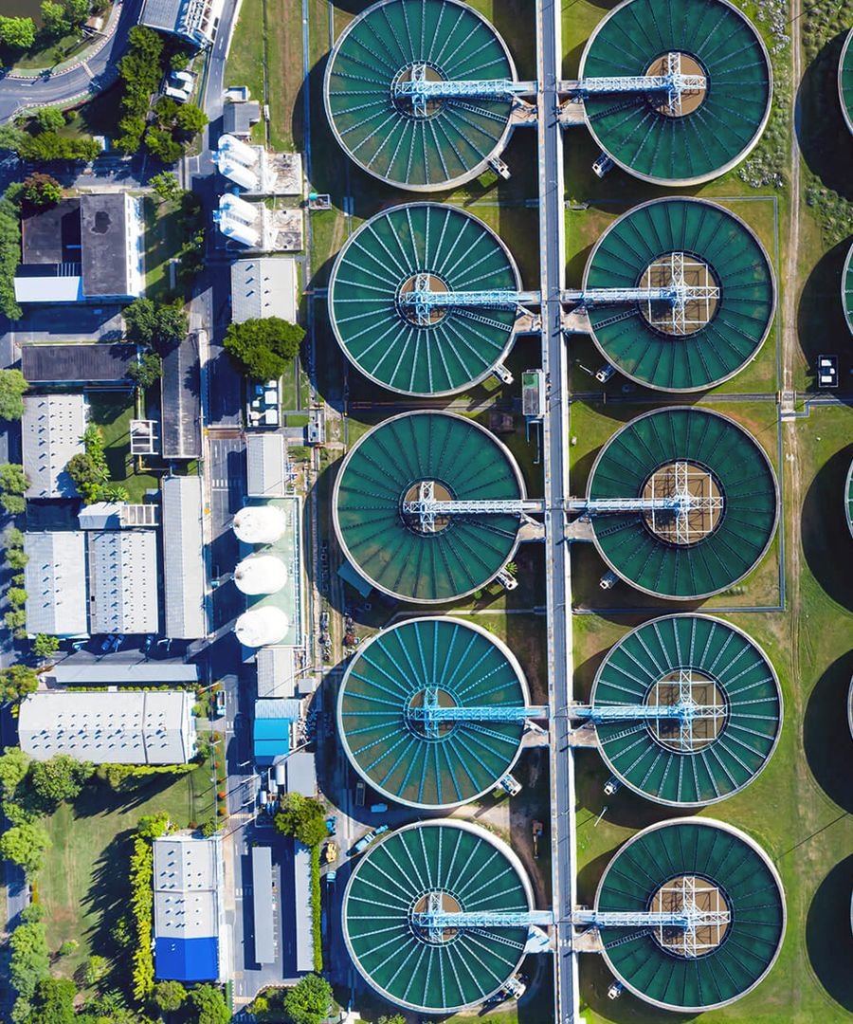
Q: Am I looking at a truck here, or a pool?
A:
truck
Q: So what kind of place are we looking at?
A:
industrial area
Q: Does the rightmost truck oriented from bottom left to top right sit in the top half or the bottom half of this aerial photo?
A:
bottom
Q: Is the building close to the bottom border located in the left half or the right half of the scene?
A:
left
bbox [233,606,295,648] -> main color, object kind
white silo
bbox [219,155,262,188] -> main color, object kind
white silo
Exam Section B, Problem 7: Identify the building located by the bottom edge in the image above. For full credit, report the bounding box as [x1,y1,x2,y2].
[154,834,227,982]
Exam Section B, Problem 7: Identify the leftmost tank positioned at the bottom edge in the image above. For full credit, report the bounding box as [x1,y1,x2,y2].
[341,814,551,1013]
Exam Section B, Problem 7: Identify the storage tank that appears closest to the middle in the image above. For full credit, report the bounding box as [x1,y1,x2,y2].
[332,410,544,603]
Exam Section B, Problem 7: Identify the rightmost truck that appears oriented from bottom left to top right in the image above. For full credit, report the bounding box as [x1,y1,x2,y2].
[352,821,388,854]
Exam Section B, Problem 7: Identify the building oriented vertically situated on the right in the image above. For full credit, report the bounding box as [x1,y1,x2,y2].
[522,369,546,458]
